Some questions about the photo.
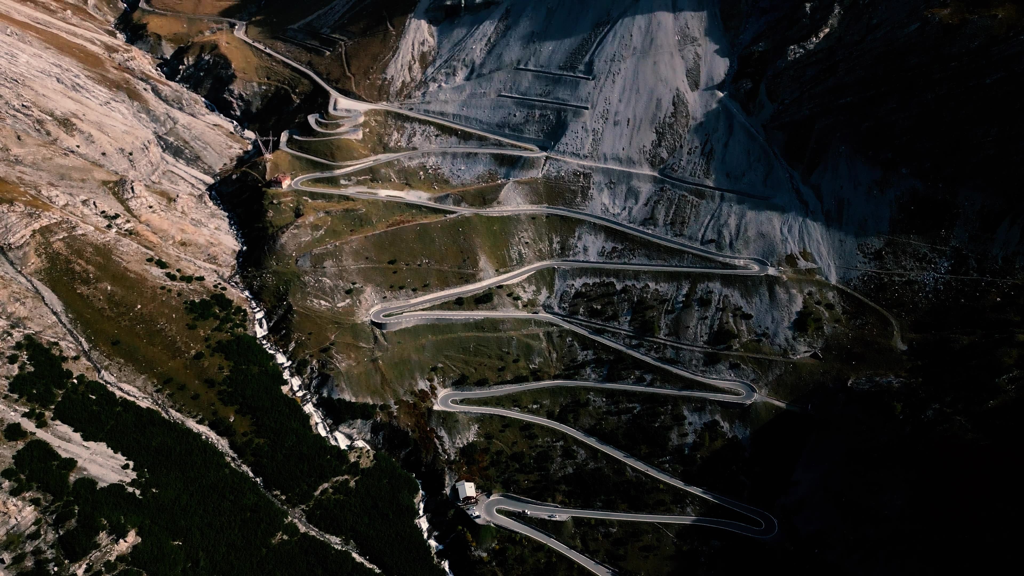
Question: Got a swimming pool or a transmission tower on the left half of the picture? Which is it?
transmission tower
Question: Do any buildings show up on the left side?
Yes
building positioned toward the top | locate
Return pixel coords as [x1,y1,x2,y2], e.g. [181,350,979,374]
[267,169,294,188]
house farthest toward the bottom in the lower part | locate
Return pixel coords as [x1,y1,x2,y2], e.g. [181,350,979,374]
[452,479,475,511]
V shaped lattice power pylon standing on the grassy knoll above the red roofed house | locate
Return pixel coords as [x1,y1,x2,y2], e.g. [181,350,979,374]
[249,127,275,158]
